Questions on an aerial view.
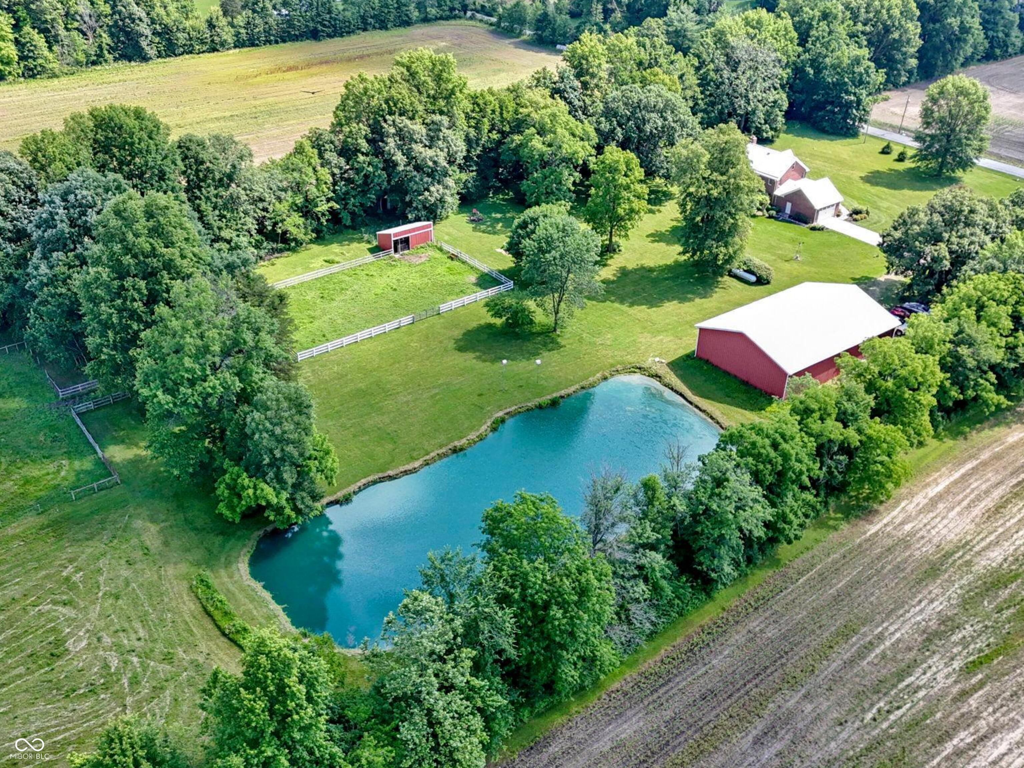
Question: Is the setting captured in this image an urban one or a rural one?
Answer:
rural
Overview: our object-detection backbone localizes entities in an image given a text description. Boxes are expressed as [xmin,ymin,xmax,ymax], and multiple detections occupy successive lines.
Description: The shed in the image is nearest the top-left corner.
[378,220,434,255]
